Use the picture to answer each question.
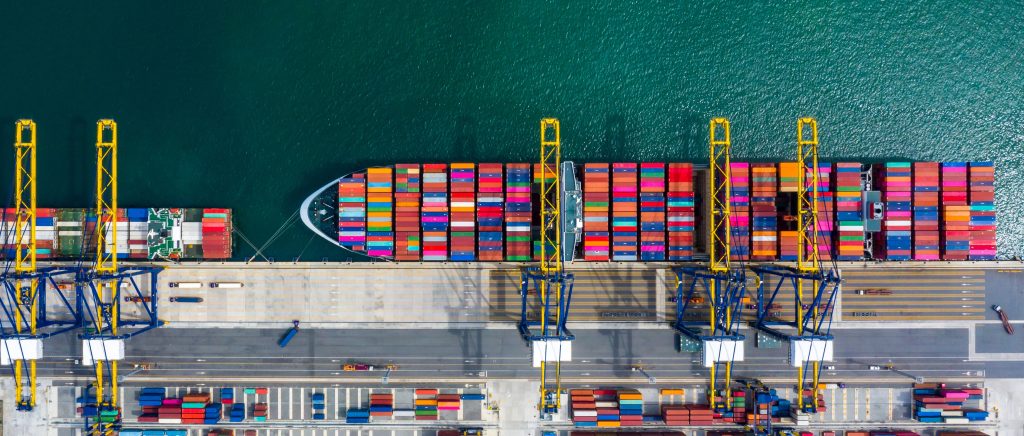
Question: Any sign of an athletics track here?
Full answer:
No, the frame has no athletics track in it.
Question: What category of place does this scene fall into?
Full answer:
The area seen from above is a port.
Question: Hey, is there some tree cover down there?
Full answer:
No, tree cover can't be seen anywhere here.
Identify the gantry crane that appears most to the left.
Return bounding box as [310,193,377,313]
[0,119,98,415]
